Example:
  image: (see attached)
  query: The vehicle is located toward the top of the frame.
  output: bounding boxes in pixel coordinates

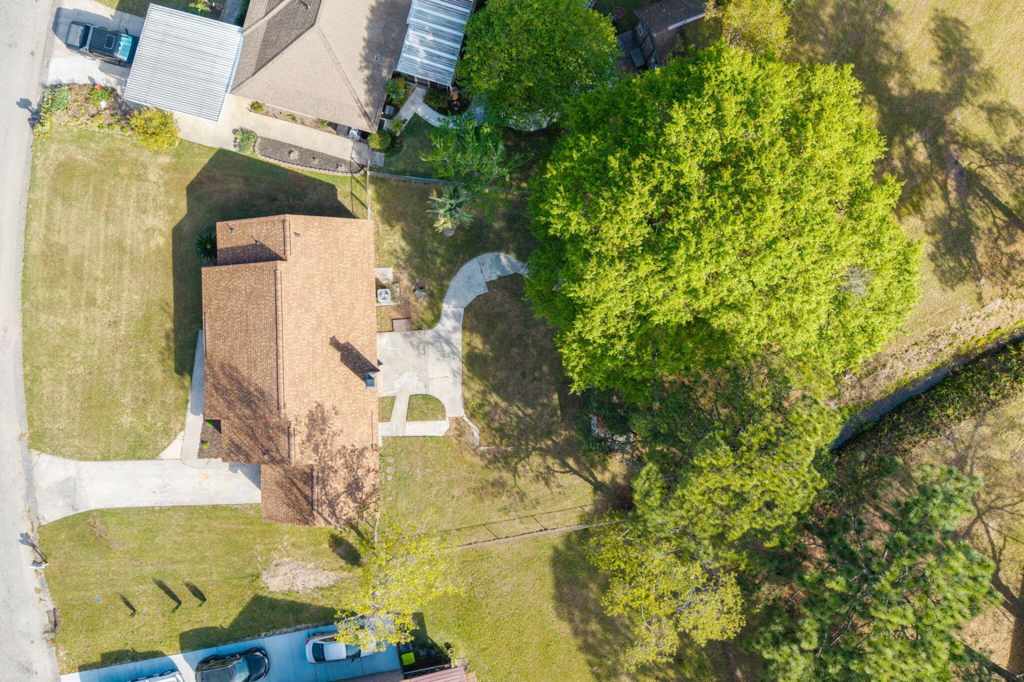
[48,12,139,66]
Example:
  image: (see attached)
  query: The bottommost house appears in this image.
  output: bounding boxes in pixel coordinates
[200,216,388,531]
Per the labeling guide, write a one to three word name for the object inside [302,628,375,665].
car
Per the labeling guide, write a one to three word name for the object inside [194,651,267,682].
car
